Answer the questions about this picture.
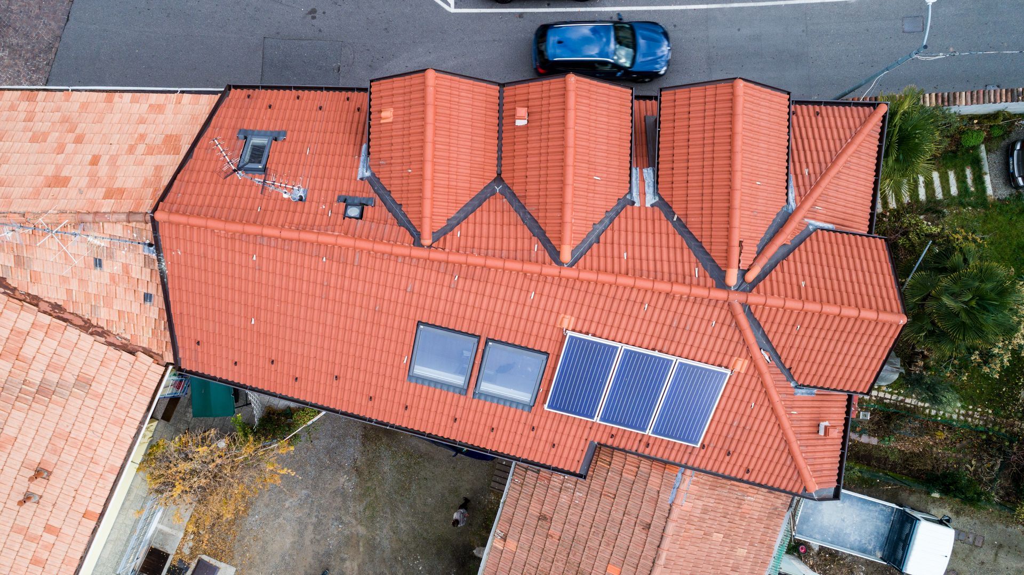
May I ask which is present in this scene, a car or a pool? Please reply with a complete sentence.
Visible in the photo is a car.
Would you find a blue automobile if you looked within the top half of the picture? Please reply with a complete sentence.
Yes, a blue automobile is visible within the top half of the picture.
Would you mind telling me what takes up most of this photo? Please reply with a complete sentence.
Most of the picture is covered by buildings.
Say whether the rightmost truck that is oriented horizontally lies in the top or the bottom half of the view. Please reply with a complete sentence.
The bottom half of the photo is where the rightmost truck that is oriented horizontally is.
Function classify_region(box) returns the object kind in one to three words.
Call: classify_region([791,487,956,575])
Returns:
truck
